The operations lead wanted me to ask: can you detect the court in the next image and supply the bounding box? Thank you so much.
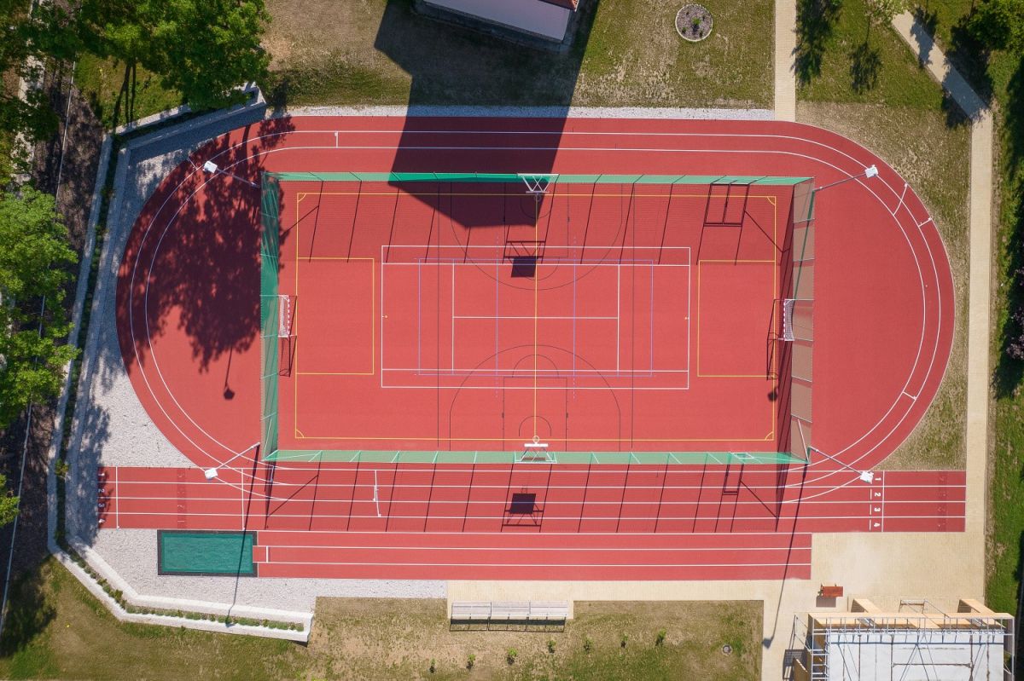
[278,182,793,452]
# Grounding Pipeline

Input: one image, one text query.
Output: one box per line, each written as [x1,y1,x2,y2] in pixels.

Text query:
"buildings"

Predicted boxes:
[794,600,1018,681]
[428,0,582,43]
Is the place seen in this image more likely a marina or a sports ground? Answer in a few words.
sports ground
